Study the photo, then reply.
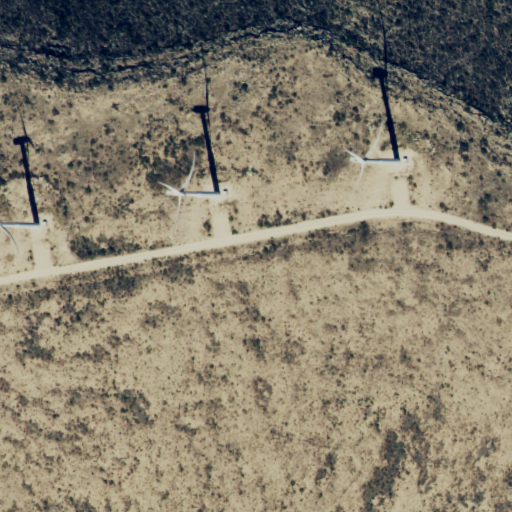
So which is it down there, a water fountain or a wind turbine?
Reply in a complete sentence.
This aerial view contains a wind turbine.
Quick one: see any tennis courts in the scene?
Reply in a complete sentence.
No, the scene contains no tennis court.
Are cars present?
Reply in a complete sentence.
No, I find no car anywhere in the image.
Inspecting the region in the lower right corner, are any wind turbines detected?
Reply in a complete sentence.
No, no wind turbine can be made out in the lower right corner.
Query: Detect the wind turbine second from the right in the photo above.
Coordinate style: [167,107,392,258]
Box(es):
[152,154,221,236]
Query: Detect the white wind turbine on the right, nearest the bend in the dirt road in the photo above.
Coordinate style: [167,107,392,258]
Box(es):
[340,124,402,202]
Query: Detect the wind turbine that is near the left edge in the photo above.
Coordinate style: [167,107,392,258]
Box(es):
[0,220,41,250]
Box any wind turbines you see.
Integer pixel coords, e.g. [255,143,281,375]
[0,220,41,250]
[152,154,221,236]
[340,124,402,202]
